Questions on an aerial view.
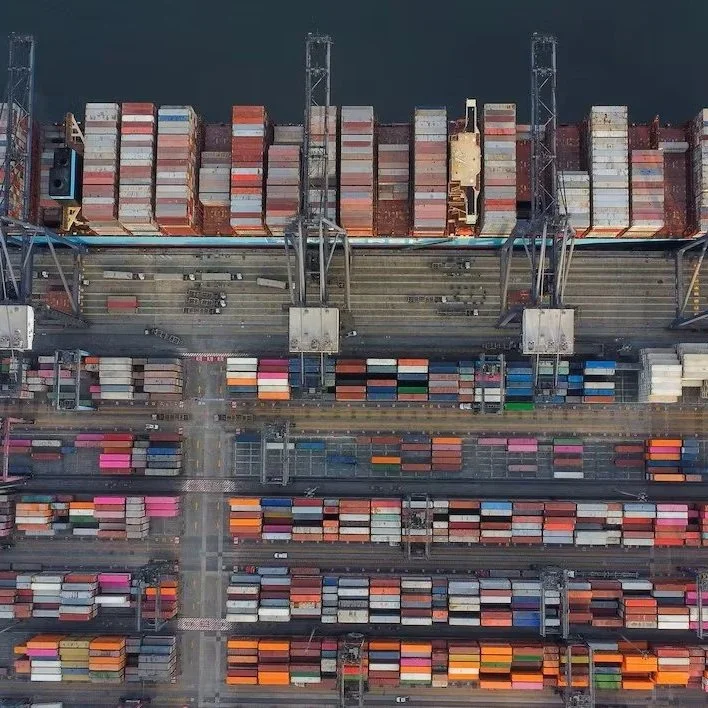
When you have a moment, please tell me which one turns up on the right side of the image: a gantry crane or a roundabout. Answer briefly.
gantry crane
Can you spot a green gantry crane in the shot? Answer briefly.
No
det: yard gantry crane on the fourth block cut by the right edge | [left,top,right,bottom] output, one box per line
[673,560,708,642]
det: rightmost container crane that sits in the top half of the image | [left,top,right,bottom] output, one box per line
[658,235,708,329]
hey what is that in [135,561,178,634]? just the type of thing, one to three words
container crane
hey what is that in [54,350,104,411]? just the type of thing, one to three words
container crane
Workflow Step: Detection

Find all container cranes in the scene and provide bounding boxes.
[469,354,505,413]
[337,620,369,708]
[658,235,708,329]
[0,34,100,389]
[135,561,178,634]
[0,418,37,486]
[287,33,359,391]
[673,560,708,642]
[260,420,298,486]
[550,627,595,708]
[400,488,431,560]
[54,350,104,411]
[525,557,569,640]
[485,32,581,393]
